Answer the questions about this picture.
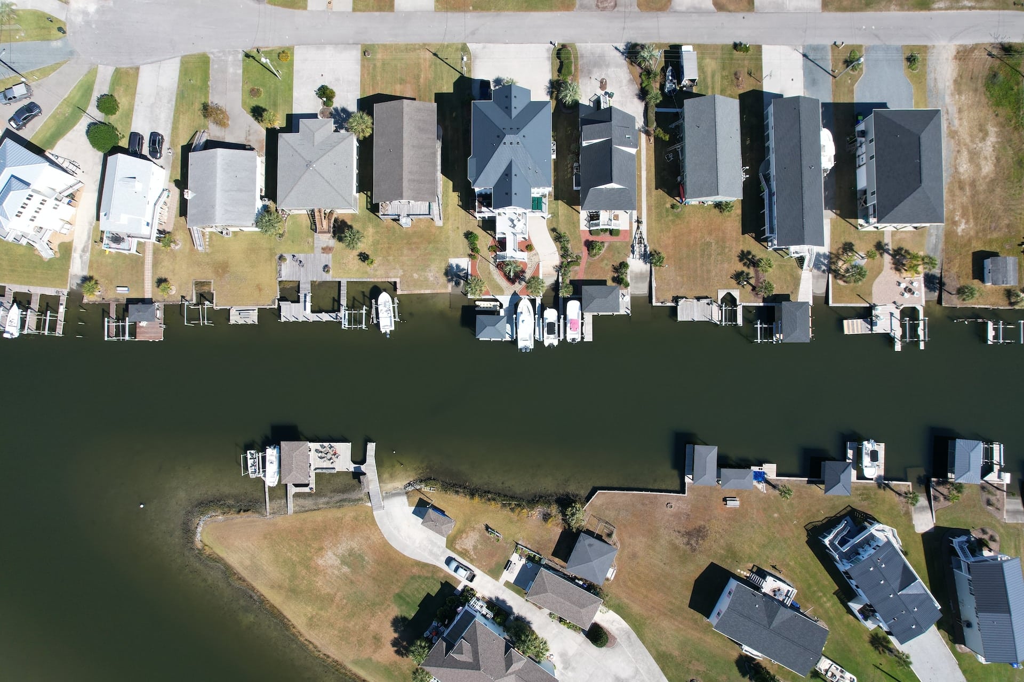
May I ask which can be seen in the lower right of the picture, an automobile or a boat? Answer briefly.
boat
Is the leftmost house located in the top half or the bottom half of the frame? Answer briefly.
top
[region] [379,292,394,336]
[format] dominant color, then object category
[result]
white boat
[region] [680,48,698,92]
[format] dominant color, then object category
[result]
white vehicle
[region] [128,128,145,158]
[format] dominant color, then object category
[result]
black car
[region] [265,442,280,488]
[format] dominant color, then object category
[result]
white boat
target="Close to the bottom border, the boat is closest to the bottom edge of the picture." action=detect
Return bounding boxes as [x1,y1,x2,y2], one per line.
[814,654,855,682]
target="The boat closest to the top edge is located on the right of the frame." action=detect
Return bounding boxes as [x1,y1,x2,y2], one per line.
[665,65,677,99]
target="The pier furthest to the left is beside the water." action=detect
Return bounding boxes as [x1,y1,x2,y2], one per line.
[0,284,75,336]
